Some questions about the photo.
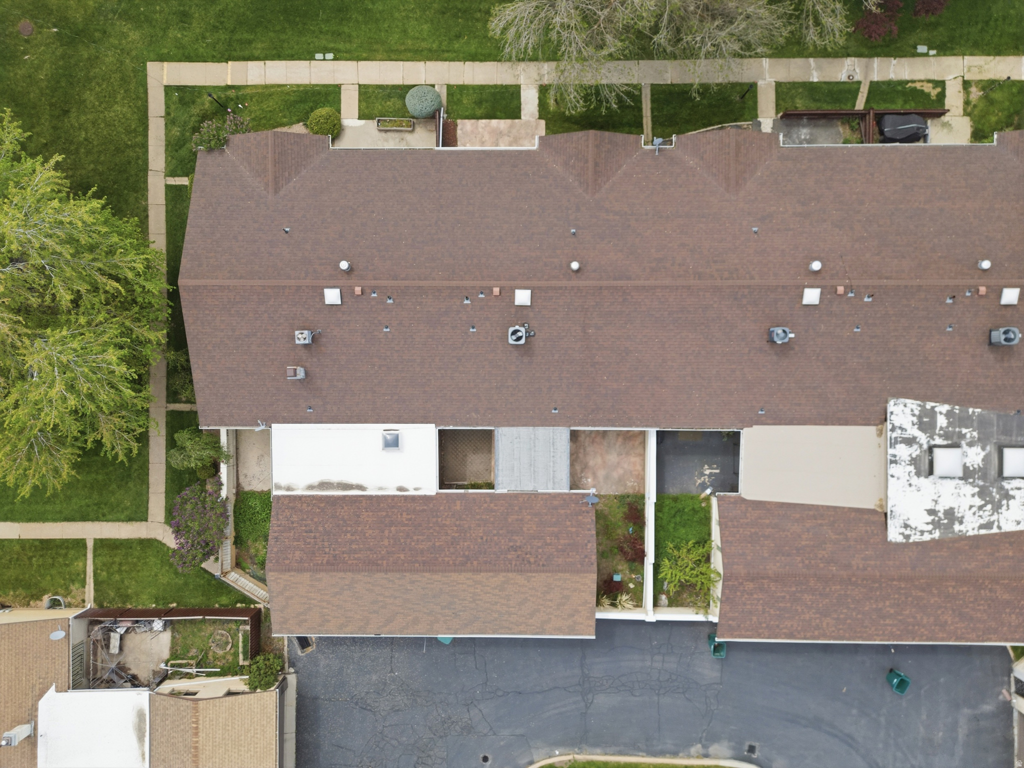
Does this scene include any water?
No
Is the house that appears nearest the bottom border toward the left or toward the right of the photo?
left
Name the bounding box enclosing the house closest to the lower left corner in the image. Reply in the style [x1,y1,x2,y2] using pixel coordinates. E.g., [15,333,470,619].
[0,604,285,768]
